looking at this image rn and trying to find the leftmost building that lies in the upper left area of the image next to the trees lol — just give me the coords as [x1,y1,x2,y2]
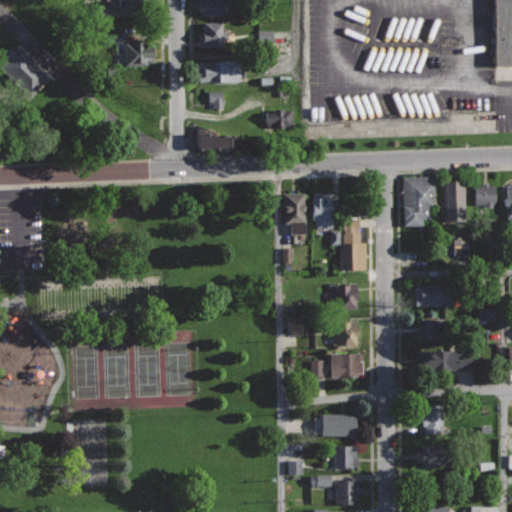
[1,58,46,90]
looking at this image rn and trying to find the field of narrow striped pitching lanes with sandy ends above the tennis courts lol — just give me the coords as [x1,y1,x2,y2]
[39,276,160,320]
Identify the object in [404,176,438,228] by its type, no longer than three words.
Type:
house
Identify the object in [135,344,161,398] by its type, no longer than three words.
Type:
tennis court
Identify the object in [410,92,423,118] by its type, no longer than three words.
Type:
vehicle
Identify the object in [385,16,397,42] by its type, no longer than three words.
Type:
vehicle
